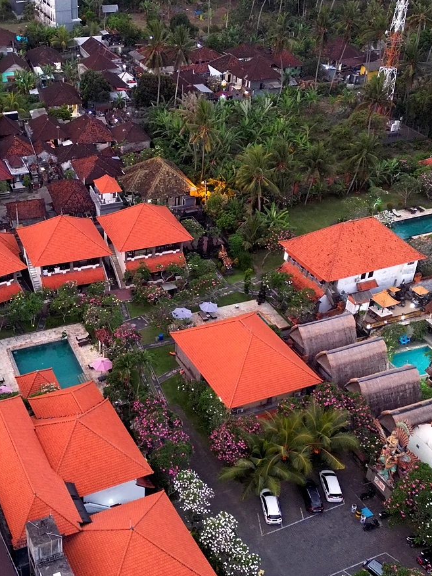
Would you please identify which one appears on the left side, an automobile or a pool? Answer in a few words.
pool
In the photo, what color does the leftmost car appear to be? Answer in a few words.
white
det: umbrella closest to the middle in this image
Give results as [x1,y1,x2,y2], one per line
[197,303,219,319]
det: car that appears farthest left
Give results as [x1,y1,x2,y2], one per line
[257,491,285,527]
